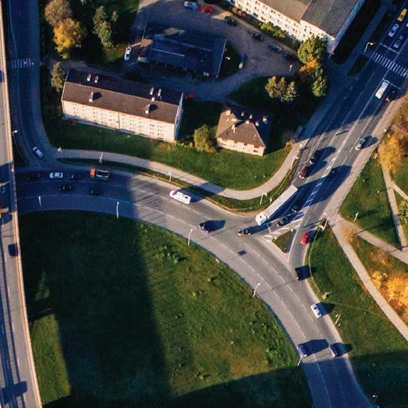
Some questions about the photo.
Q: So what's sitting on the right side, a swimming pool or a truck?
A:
truck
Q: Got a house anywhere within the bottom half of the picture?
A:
No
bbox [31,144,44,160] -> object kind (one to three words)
vehicle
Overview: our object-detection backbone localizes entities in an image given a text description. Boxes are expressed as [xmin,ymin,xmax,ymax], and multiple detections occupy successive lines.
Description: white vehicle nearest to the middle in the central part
[170,188,194,202]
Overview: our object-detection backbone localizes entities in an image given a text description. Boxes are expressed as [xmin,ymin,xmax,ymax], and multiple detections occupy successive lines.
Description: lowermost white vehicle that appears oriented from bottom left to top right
[258,178,300,224]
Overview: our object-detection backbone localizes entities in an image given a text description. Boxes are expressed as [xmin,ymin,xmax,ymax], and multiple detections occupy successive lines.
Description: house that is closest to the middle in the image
[214,107,276,156]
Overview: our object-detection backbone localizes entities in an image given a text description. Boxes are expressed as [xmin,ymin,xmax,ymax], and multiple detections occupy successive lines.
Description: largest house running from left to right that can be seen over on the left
[59,67,183,141]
